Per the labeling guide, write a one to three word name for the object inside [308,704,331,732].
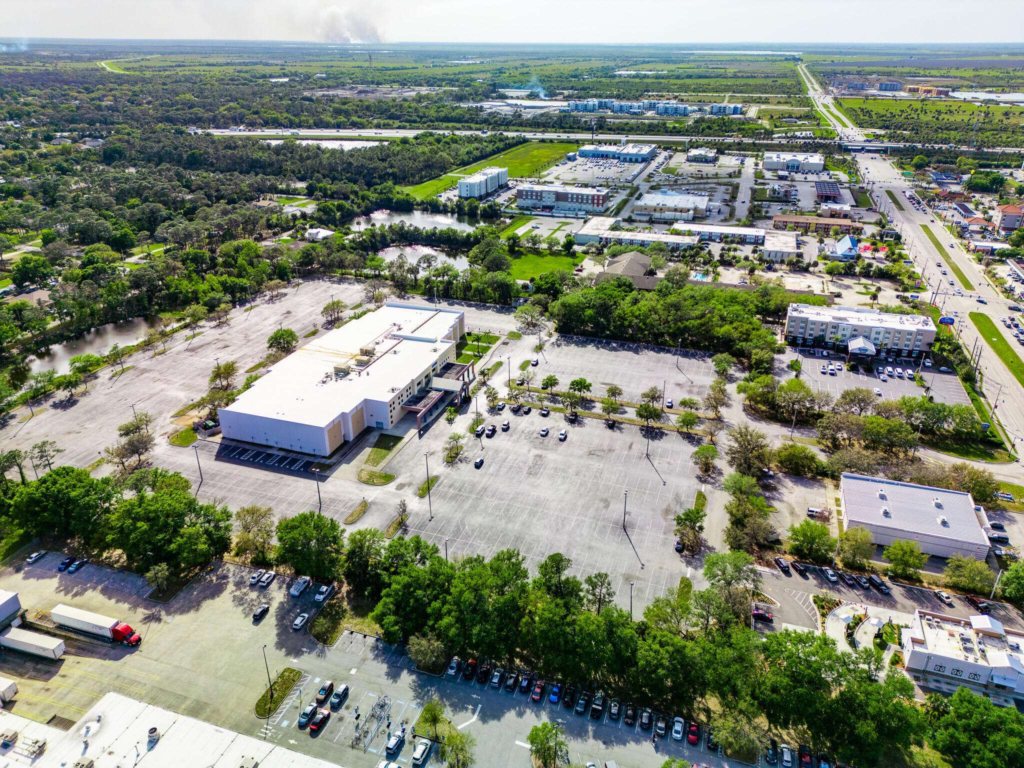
car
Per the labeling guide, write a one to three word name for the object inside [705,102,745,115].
building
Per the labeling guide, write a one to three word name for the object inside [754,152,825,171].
building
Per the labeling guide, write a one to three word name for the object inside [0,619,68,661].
trailer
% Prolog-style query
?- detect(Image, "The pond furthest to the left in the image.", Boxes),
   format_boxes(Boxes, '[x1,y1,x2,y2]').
[23,315,184,380]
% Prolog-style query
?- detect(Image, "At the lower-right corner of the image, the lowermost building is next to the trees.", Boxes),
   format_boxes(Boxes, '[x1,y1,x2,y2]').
[882,603,1024,692]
